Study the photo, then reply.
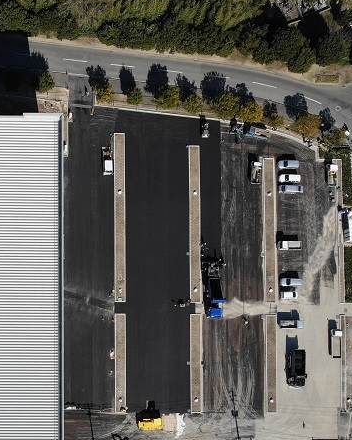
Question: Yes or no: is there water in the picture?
No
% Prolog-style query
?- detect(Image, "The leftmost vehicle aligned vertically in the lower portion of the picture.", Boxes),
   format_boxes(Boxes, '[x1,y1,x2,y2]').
[207,277,224,317]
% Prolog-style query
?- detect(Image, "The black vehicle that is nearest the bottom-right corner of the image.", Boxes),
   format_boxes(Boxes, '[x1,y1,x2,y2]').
[287,349,304,387]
